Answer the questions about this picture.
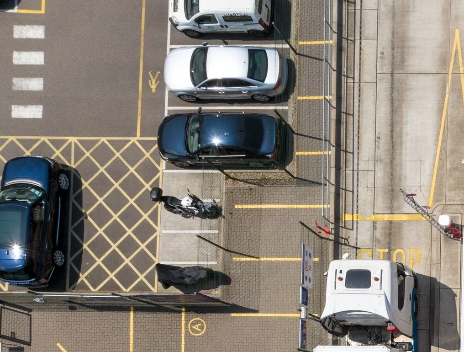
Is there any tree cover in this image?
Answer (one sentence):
No, tree cover can't be seen anywhere here.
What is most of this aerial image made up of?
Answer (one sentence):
The bulk of the photo consists of paved ground.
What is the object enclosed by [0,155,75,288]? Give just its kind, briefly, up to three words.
car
